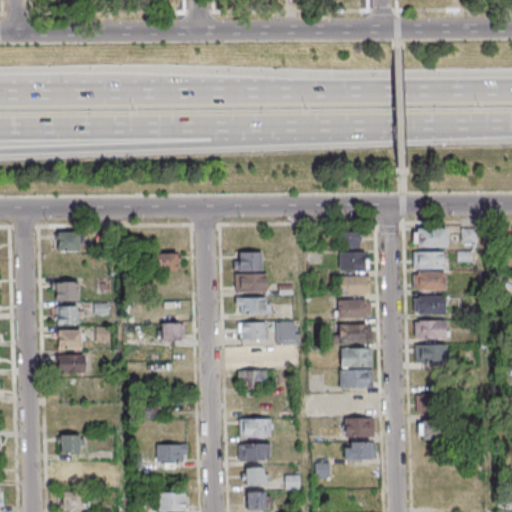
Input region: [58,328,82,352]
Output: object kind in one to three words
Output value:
house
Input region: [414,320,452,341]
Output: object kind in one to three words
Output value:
house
